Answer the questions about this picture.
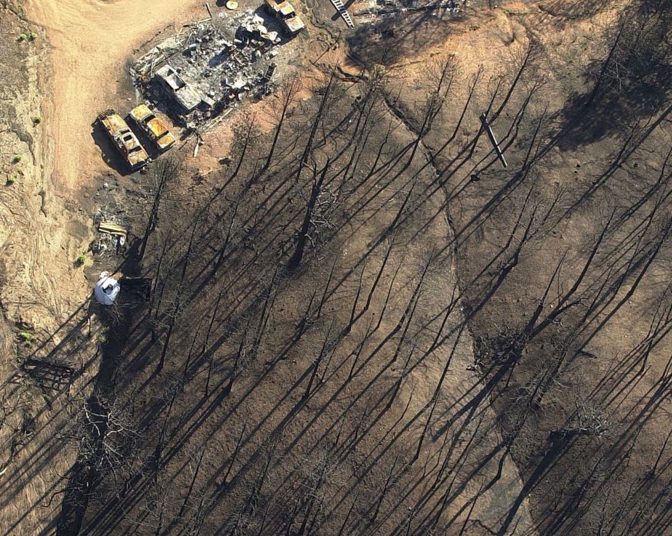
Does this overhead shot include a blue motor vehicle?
No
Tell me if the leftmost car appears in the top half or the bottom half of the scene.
top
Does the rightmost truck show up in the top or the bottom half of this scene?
top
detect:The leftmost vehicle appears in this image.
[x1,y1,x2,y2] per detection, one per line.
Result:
[99,114,149,169]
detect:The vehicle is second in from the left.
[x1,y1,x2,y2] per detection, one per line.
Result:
[129,105,174,153]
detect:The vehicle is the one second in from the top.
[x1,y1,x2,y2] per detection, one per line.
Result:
[153,64,204,115]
